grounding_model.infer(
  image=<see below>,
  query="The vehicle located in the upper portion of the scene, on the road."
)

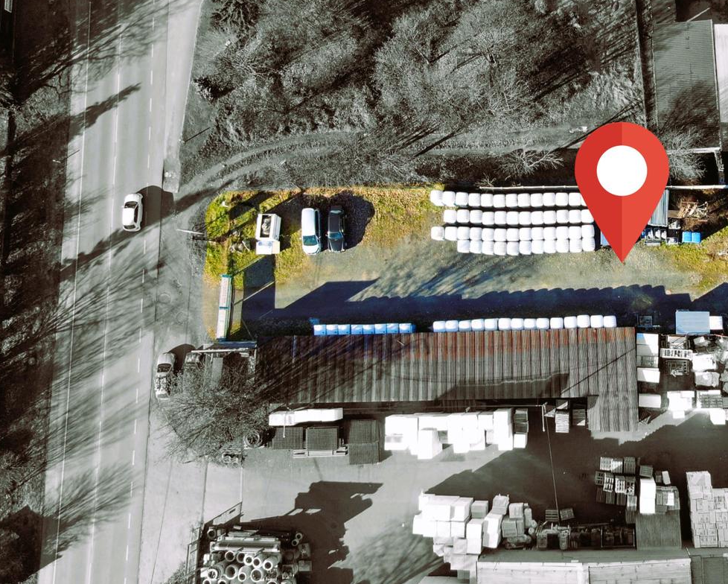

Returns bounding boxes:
[123,193,149,233]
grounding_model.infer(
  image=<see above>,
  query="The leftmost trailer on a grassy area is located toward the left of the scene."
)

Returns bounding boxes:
[252,216,280,247]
